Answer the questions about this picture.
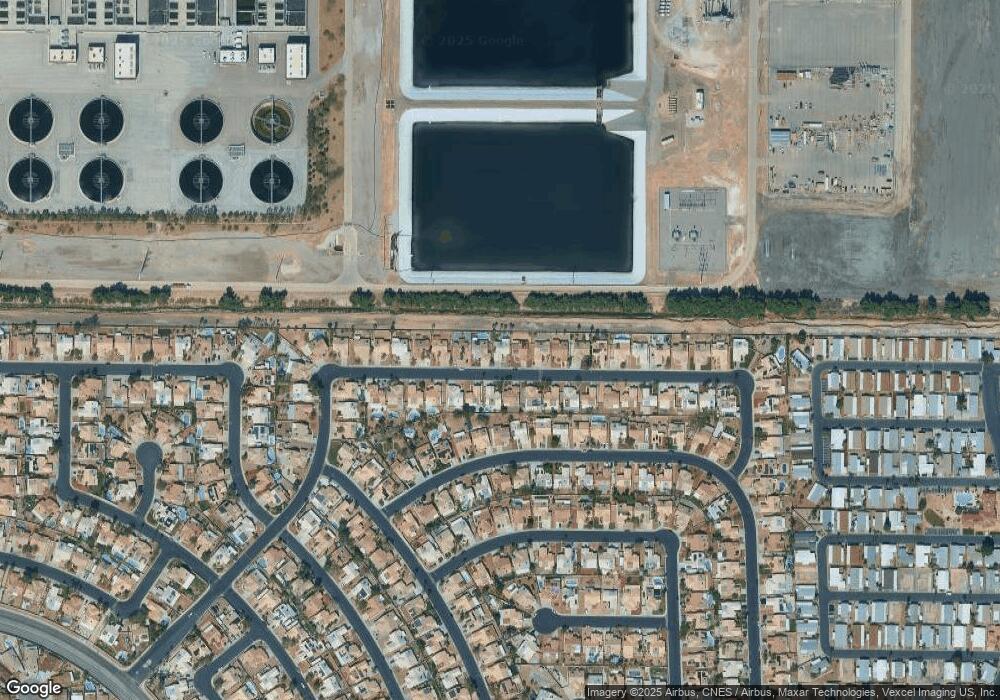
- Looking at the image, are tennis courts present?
No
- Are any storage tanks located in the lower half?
No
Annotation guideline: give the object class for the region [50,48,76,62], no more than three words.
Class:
building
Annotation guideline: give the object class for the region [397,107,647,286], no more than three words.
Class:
pond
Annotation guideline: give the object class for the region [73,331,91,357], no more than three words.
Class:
house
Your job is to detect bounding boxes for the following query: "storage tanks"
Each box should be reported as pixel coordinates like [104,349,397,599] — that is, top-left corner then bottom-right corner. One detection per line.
[249,155,295,204]
[179,96,225,144]
[78,155,124,204]
[8,96,54,144]
[79,96,124,144]
[250,96,295,144]
[179,155,224,204]
[8,155,54,204]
